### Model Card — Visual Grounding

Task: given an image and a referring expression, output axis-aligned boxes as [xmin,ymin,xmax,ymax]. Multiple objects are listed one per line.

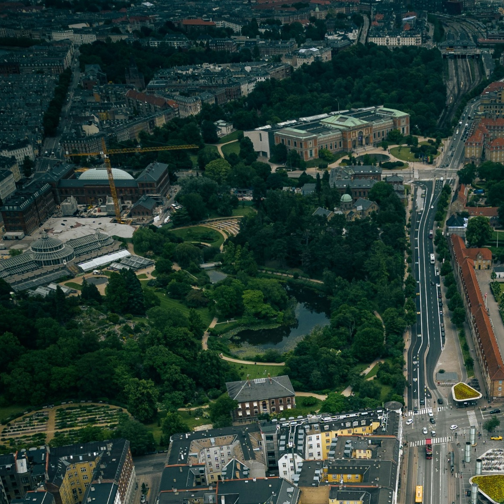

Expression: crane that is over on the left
[70,144,202,224]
